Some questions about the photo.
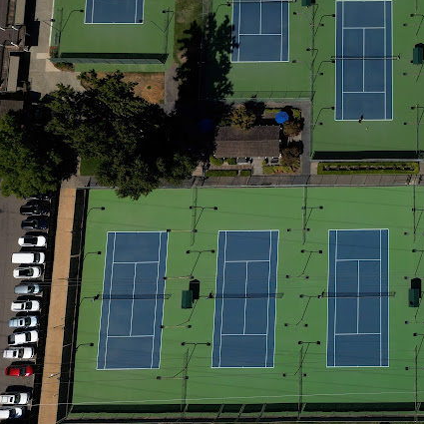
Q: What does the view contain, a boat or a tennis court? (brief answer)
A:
tennis court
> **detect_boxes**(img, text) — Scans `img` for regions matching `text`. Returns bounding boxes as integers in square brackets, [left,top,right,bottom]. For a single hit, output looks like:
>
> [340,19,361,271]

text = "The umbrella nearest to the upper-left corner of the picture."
[200,119,213,132]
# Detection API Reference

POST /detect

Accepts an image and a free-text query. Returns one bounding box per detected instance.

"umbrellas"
[276,110,290,123]
[200,119,213,132]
